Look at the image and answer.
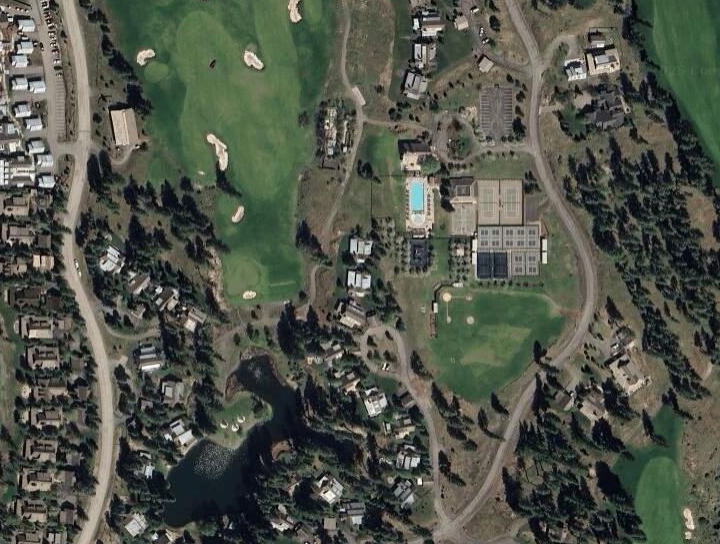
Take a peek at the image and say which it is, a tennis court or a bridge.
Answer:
tennis court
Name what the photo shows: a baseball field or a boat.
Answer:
baseball field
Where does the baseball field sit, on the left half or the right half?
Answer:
right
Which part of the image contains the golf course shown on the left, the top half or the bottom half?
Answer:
top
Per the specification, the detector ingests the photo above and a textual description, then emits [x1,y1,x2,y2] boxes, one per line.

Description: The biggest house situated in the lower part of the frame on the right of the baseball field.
[603,354,650,393]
